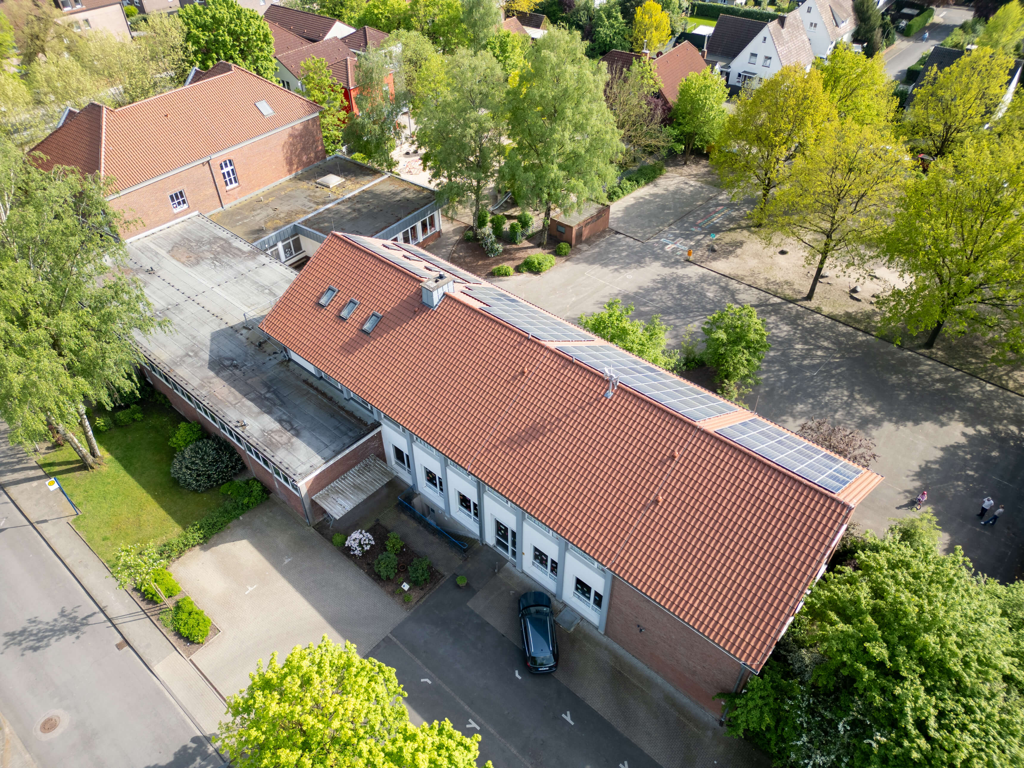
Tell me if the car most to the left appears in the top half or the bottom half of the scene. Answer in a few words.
bottom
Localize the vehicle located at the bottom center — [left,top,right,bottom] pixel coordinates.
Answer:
[516,595,563,679]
